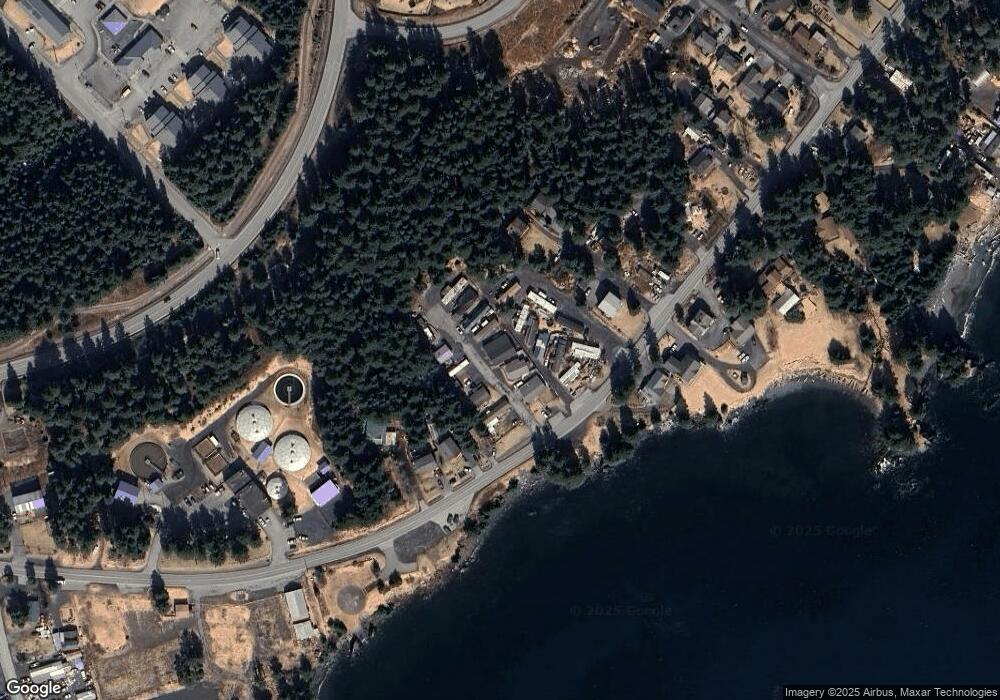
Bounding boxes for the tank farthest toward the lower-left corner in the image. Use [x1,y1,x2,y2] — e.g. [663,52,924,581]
[130,442,167,479]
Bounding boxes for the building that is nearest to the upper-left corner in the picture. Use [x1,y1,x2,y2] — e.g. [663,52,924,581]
[16,0,70,42]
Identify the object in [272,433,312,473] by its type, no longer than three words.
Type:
storage tank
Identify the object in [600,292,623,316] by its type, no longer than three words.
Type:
shed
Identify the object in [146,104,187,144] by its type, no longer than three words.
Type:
building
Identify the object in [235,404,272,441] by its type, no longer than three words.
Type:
storage tank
